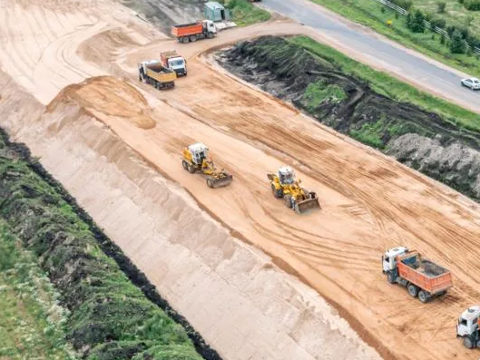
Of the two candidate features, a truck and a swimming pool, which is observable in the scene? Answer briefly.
truck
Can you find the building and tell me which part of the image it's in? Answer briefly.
top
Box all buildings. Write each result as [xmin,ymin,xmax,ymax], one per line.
[205,3,229,24]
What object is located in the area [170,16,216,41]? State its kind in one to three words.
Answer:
truck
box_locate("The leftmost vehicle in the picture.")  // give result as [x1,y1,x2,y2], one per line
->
[131,56,171,86]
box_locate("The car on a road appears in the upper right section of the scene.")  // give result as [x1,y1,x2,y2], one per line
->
[461,75,480,89]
